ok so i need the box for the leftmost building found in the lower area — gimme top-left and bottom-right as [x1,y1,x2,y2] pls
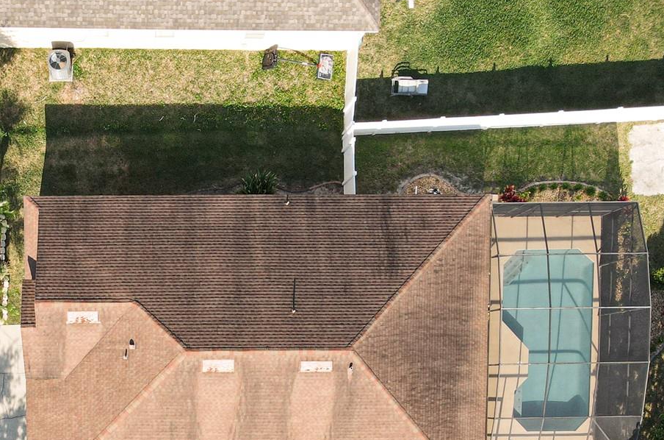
[19,192,499,440]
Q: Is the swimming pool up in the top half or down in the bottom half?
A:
bottom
